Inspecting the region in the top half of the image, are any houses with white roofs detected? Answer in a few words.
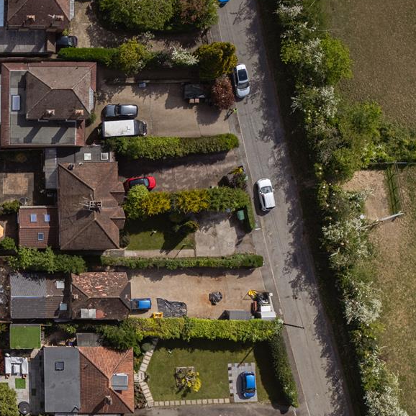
No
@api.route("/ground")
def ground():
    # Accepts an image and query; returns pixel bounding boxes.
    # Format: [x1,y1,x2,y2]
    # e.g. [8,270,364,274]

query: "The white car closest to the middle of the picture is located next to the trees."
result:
[254,178,276,213]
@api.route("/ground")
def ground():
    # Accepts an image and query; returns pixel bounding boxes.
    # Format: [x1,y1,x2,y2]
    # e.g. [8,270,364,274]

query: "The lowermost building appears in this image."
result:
[38,343,134,416]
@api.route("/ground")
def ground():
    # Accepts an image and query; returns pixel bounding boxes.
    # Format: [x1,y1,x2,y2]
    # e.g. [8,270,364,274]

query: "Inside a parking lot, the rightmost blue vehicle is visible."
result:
[238,370,256,400]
